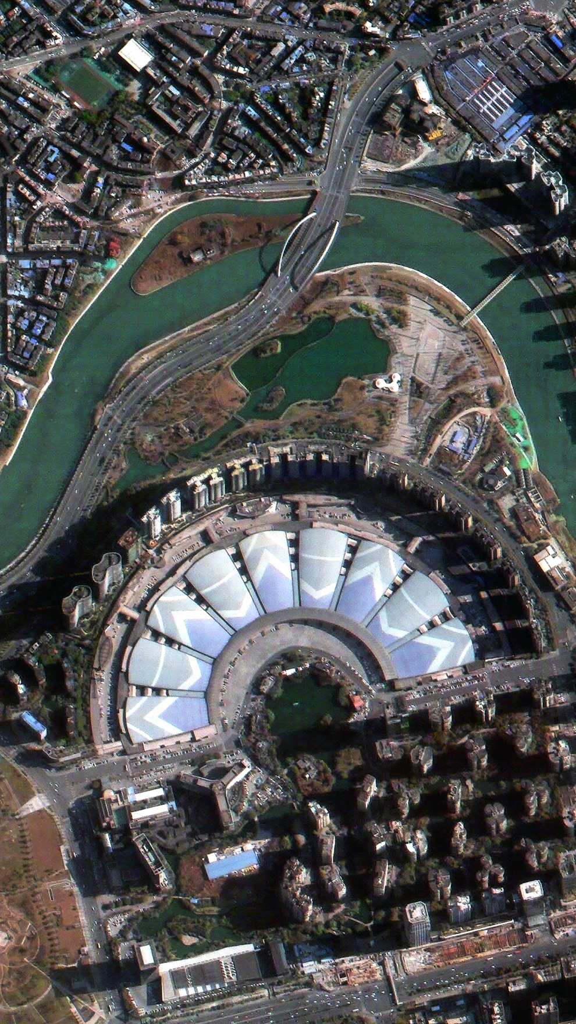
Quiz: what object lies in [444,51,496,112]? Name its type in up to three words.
shed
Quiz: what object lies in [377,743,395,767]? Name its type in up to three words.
building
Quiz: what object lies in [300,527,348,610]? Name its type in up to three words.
building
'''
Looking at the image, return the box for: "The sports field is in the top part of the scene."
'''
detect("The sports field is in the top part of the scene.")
[63,62,114,106]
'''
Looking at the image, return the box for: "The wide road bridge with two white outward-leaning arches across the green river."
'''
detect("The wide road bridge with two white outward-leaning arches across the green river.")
[262,187,352,313]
